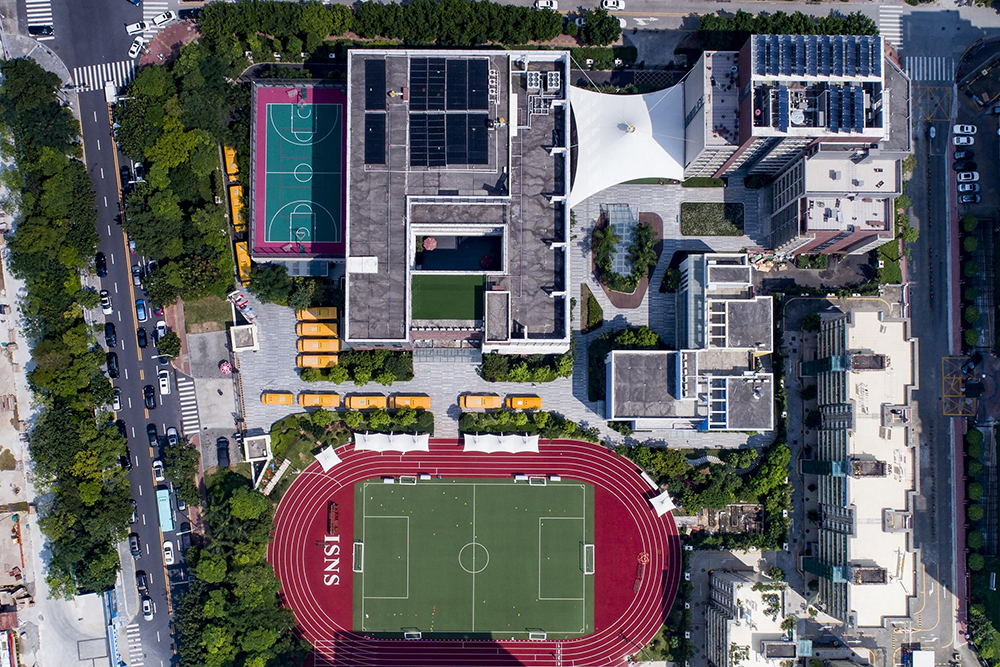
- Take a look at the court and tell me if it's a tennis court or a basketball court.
basketball court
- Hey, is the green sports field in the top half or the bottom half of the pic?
bottom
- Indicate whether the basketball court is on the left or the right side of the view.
left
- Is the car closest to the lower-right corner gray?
No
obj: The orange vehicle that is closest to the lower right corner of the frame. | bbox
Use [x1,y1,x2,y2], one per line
[509,395,540,410]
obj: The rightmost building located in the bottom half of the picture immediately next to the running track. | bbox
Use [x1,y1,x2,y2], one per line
[800,308,920,629]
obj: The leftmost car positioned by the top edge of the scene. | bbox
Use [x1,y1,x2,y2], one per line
[29,24,54,37]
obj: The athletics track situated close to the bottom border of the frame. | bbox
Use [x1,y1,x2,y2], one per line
[268,440,681,667]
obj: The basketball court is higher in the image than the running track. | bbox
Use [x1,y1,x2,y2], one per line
[251,84,347,261]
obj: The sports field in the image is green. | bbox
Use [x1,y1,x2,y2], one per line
[354,478,594,640]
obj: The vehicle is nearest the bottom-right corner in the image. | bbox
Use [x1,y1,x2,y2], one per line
[960,352,984,374]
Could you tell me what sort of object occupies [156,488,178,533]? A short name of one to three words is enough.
bus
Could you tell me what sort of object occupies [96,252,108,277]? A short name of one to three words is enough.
vehicle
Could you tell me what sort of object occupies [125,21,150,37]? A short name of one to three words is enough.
car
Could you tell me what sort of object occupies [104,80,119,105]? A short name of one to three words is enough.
vehicle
